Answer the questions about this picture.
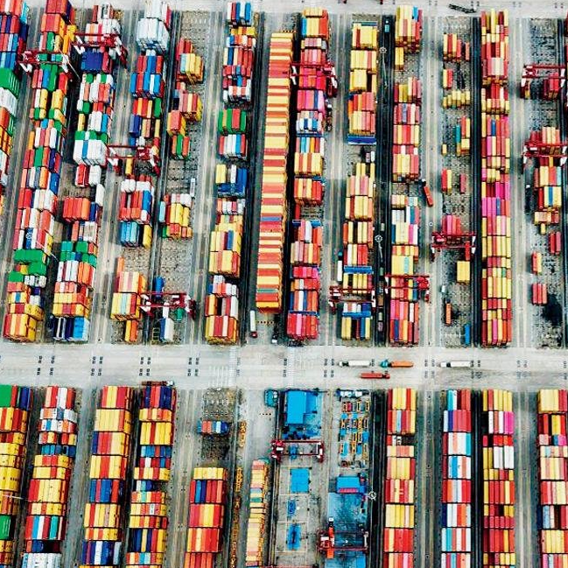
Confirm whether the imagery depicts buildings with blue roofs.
Yes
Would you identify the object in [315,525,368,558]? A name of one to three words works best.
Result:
container crane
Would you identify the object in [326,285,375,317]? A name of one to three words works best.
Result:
container crane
